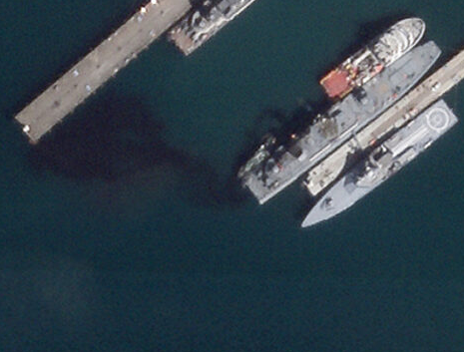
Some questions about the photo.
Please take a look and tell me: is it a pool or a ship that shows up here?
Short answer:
ship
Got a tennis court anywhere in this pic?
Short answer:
No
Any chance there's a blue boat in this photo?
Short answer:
No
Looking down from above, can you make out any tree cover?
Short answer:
No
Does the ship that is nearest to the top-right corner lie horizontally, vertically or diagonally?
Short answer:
diagonally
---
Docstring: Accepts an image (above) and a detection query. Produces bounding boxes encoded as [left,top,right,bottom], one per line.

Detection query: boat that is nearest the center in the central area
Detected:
[238,147,270,176]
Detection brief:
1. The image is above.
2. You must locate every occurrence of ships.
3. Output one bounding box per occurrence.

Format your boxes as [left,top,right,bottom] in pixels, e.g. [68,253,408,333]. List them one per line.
[302,99,458,227]
[320,18,424,98]
[240,41,441,204]
[169,0,255,56]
